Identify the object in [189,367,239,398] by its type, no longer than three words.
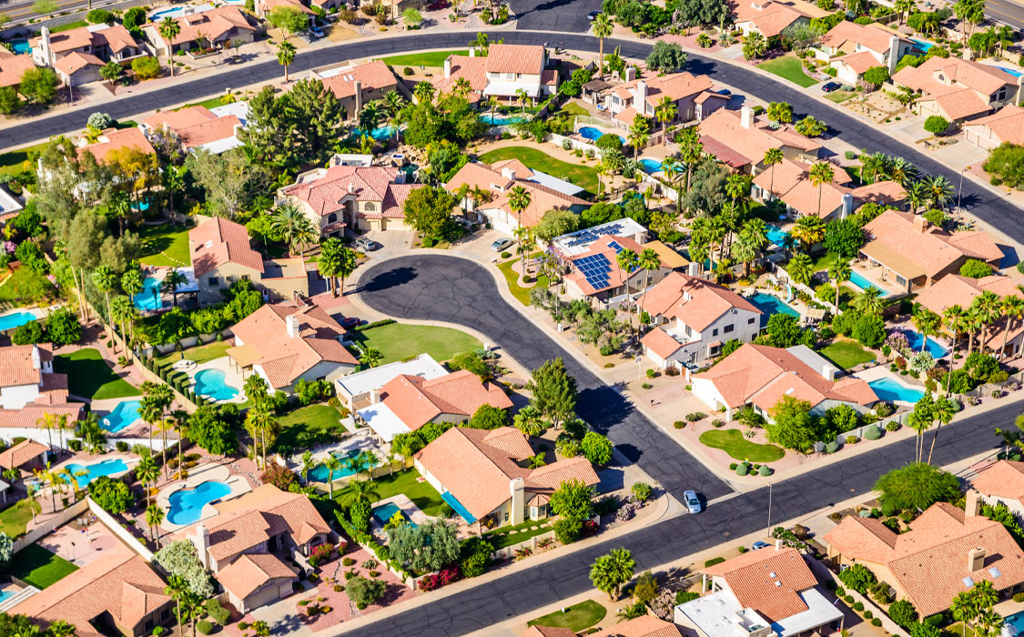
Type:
swimming pool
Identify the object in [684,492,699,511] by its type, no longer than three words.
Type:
car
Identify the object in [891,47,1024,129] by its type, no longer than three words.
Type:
house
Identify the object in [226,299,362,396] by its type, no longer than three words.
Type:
house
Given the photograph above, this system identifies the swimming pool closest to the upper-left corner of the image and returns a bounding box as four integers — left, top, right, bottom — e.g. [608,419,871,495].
[11,39,33,56]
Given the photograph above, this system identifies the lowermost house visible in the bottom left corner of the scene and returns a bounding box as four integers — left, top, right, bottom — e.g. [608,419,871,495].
[0,552,170,637]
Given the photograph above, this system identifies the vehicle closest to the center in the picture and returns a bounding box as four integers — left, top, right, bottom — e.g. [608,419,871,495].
[491,237,511,249]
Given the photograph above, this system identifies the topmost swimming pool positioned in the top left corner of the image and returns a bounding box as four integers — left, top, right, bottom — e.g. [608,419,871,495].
[149,7,185,20]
